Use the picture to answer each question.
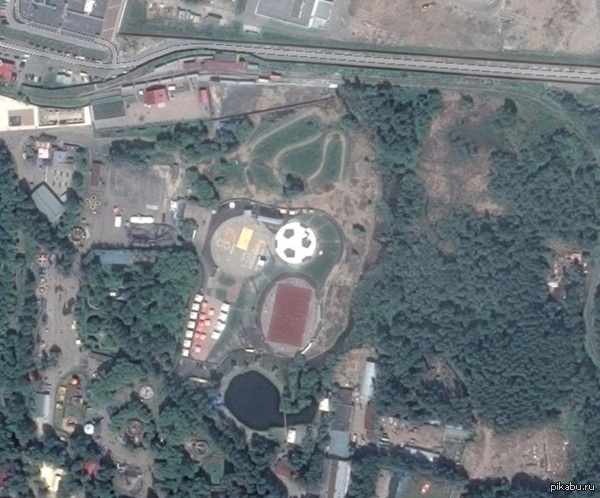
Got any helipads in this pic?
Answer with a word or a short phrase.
No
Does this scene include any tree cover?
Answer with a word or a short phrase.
Yes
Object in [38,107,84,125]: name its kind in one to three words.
building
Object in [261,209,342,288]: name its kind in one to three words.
sports field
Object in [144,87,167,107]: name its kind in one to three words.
house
